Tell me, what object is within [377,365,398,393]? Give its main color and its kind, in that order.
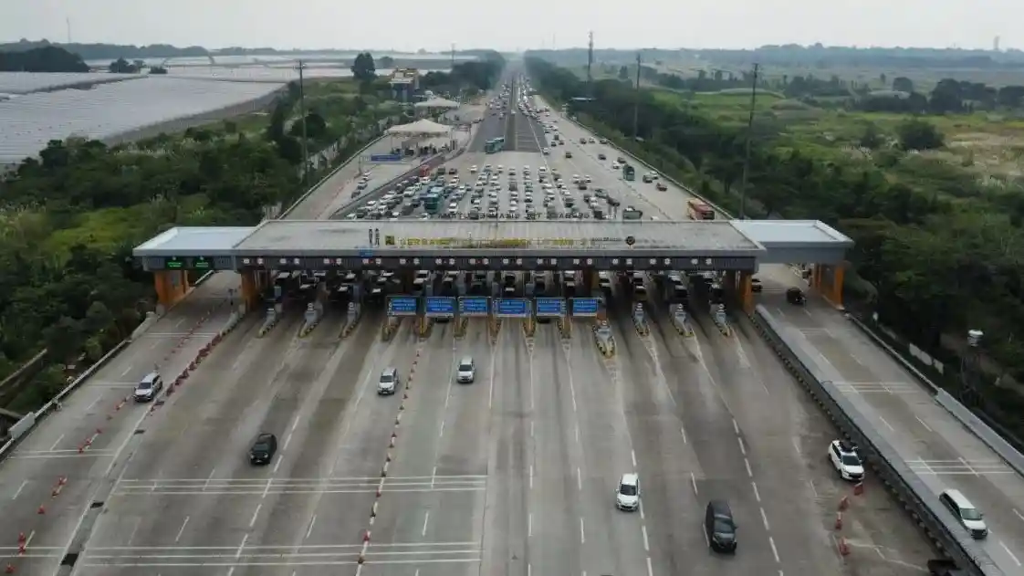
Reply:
gray car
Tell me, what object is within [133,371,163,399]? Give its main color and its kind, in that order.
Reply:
gray car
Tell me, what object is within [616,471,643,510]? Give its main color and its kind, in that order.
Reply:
white car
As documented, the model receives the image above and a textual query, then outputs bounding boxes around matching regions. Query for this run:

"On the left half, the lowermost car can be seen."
[248,427,279,463]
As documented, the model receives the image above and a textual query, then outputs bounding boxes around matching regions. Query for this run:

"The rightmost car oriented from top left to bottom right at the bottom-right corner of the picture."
[935,481,998,533]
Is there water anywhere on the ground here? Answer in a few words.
No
